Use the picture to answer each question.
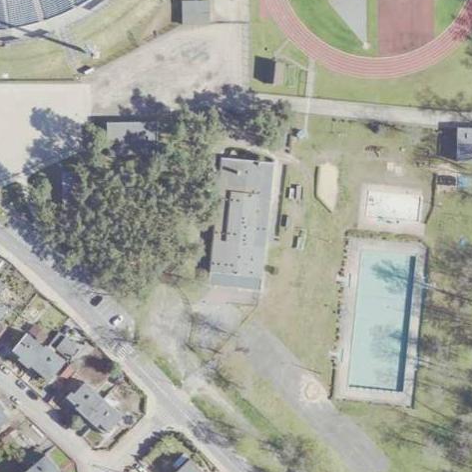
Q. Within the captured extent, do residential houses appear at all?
Yes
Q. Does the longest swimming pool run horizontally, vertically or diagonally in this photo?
vertically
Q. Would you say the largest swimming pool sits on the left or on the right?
right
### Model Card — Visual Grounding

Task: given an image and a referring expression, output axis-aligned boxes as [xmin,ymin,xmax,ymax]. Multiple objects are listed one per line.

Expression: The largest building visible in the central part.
[211,158,274,289]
